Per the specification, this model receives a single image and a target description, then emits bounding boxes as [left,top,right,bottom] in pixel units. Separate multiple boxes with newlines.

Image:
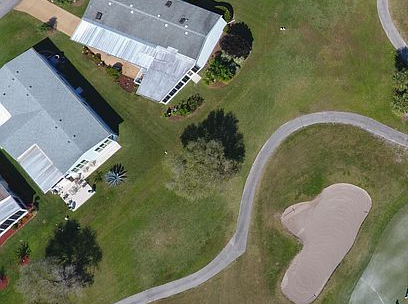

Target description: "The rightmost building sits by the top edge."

[70,0,229,104]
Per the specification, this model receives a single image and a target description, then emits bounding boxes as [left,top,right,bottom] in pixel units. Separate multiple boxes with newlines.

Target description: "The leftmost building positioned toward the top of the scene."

[0,47,123,193]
